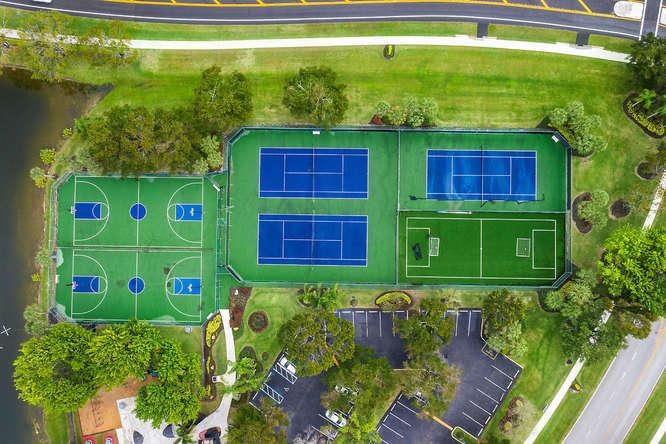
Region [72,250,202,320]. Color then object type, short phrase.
green basketball court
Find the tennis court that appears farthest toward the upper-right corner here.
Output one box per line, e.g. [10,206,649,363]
[427,150,537,201]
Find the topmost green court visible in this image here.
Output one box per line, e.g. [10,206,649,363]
[74,177,204,248]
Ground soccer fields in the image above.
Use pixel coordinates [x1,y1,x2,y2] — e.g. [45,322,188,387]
[397,212,566,285]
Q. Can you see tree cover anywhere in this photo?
Yes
